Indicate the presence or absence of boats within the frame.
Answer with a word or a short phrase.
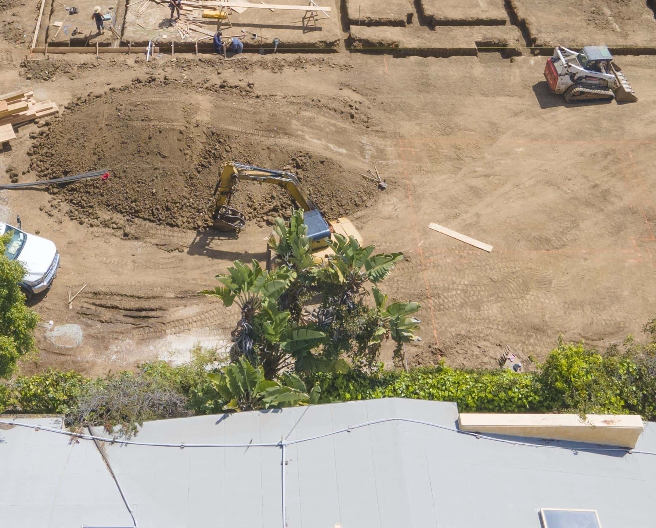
No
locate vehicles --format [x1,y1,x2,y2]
[205,157,371,288]
[0,214,62,299]
[543,42,645,110]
